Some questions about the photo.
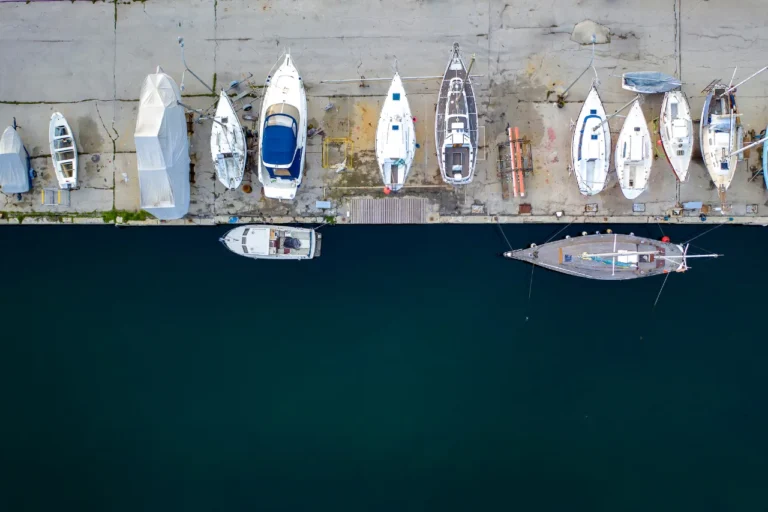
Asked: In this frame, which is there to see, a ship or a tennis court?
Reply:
ship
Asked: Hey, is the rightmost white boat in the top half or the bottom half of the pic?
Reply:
top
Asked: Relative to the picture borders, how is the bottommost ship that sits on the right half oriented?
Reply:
from left to right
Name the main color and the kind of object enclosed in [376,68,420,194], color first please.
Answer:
white boat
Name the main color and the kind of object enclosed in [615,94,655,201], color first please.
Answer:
white boat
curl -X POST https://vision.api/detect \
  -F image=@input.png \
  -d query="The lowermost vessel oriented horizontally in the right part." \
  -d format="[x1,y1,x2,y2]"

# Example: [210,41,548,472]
[497,218,722,312]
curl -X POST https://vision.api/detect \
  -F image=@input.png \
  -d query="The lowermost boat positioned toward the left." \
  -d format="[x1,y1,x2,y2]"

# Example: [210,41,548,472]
[216,220,328,261]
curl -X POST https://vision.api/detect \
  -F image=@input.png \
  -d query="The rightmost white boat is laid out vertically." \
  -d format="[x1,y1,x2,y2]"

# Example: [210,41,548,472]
[698,65,768,214]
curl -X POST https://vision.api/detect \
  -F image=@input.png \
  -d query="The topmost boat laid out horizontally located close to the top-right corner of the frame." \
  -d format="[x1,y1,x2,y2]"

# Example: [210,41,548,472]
[614,73,683,94]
